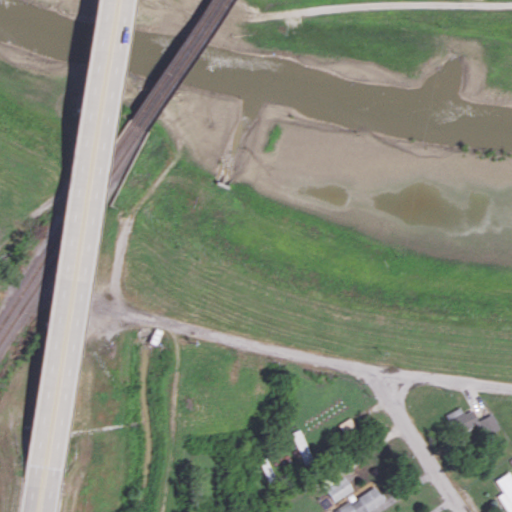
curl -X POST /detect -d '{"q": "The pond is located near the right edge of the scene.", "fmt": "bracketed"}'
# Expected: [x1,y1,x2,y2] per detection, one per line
[372,183,488,228]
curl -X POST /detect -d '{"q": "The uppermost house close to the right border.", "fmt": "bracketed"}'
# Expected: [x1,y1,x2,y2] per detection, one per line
[446,408,500,437]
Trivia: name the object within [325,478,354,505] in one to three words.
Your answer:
house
